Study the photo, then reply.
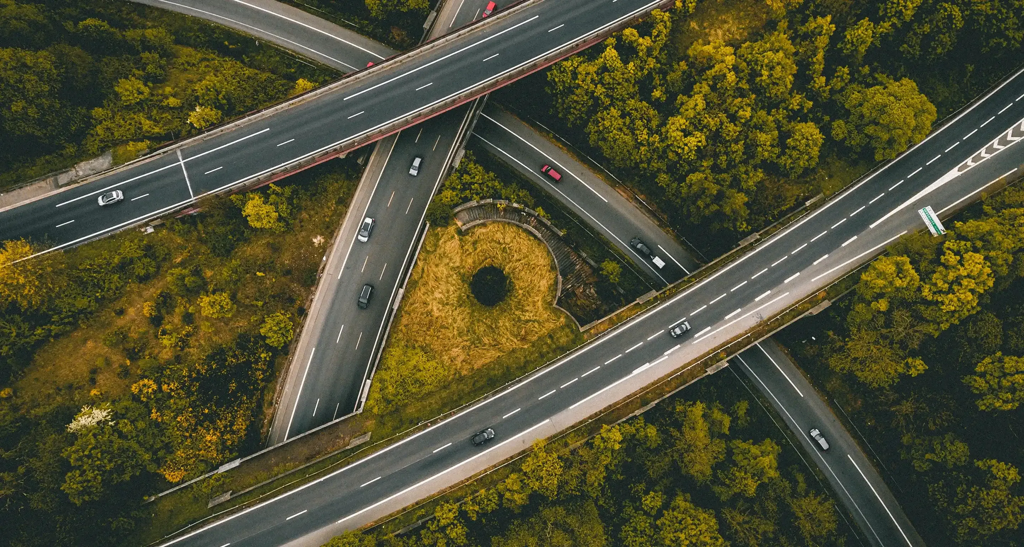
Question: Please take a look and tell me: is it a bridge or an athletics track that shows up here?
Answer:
bridge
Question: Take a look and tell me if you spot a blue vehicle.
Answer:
No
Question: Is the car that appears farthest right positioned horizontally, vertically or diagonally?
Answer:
diagonally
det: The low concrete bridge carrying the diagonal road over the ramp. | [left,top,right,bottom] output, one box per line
[620,221,835,391]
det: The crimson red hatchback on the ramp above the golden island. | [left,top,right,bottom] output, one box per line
[541,165,562,182]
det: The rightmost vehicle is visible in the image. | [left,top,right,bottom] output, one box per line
[808,427,831,452]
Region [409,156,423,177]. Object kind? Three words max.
car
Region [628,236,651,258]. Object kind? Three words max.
car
